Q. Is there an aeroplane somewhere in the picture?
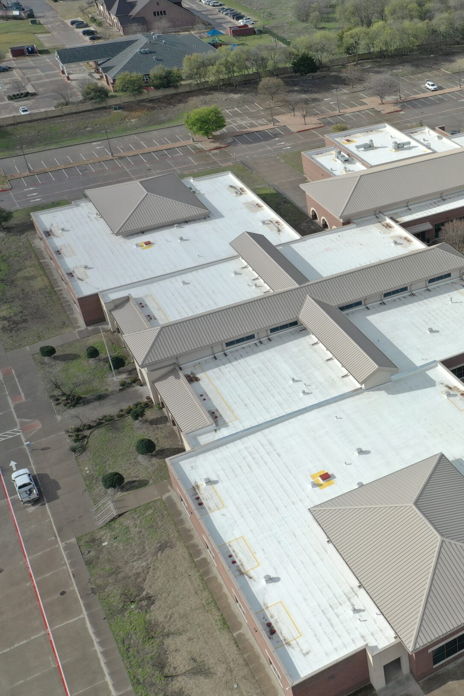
No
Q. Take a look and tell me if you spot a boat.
No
